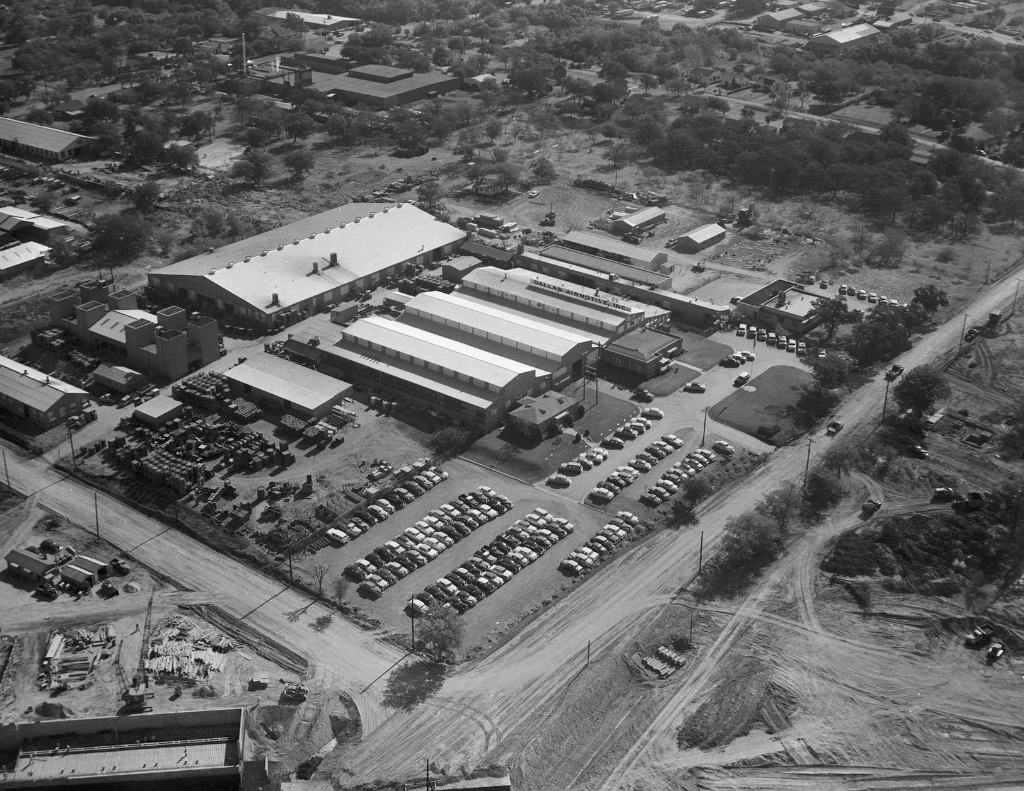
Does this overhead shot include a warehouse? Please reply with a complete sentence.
Yes, there's a warehouse down there.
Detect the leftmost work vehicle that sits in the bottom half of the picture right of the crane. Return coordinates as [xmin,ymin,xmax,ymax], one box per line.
[278,681,306,705]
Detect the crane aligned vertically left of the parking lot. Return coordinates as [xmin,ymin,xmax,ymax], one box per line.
[120,581,164,711]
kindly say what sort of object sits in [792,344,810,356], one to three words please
vehicle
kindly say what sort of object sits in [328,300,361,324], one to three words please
shed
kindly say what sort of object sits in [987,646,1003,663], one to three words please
work vehicle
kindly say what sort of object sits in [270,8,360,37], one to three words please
building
